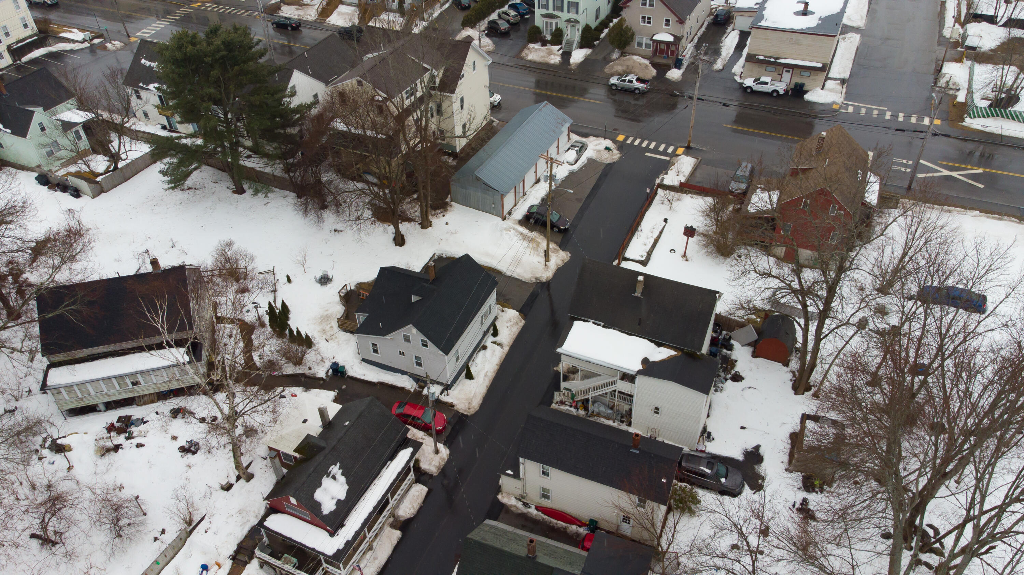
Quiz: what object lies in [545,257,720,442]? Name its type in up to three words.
house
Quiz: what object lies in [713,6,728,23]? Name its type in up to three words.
car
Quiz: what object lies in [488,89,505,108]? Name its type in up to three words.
car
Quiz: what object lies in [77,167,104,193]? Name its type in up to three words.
shed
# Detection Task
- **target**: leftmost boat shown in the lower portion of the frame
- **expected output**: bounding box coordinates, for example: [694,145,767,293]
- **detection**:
[535,508,587,528]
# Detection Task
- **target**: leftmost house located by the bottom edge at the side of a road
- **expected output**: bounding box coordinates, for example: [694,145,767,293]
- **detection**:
[254,393,424,575]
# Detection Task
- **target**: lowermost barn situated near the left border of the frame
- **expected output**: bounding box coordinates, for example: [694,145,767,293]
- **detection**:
[36,257,210,411]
